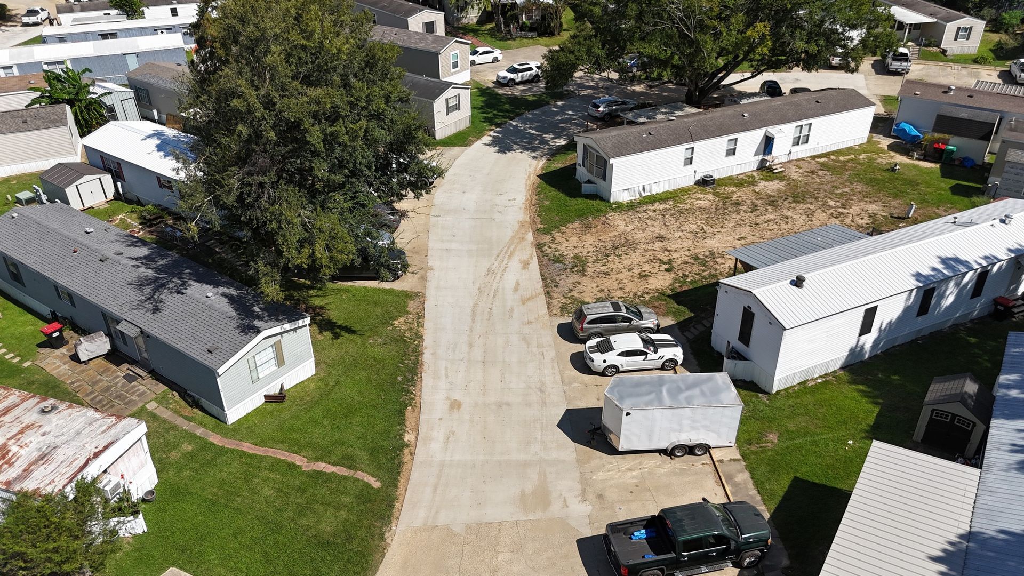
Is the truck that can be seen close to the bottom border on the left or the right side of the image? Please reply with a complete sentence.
The truck that can be seen close to the bottom border sits on the right side.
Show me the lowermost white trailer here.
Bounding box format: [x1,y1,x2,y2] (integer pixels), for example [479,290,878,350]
[574,373,745,455]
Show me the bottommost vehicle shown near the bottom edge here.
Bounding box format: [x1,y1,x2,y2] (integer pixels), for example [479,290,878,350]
[600,499,780,576]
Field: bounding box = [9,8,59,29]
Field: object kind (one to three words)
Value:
truck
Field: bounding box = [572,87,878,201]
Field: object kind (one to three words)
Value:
house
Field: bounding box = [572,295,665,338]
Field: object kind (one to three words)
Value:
car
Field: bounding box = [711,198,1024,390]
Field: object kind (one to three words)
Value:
house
